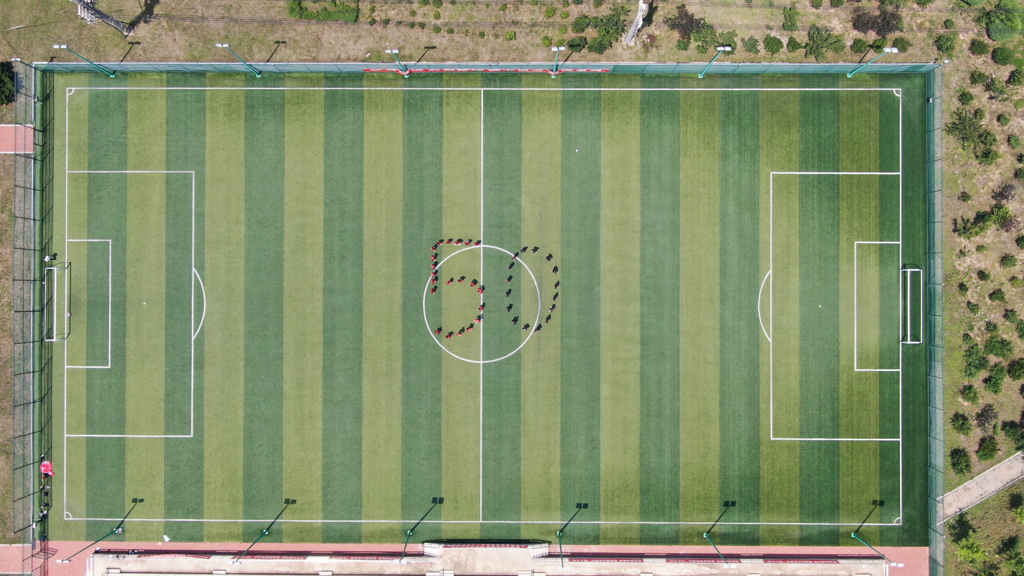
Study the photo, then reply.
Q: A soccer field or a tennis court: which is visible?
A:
soccer field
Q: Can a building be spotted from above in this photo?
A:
No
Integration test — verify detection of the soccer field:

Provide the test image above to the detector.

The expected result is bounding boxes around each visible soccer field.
[31,64,933,547]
